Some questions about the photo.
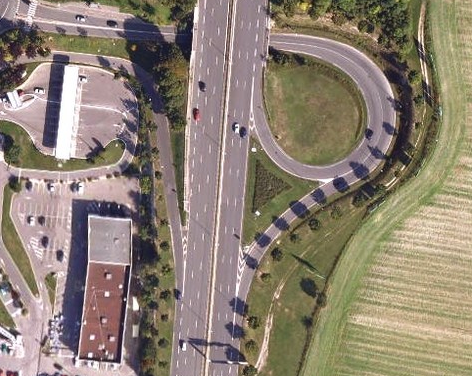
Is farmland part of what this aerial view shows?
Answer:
Yes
